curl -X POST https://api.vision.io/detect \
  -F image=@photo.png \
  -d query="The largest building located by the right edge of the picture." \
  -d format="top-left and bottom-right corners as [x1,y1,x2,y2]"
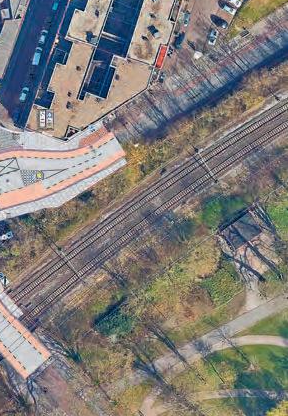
[218,203,275,251]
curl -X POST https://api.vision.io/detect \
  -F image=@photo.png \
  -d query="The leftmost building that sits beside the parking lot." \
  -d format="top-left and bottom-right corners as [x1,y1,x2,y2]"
[22,0,175,142]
